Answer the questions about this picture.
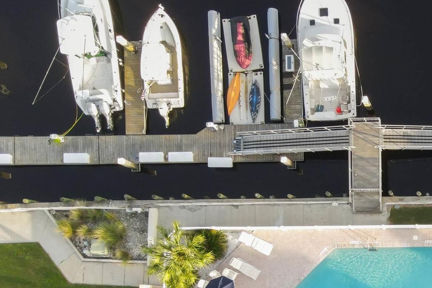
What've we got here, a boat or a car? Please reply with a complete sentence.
Of the two, only a boat appears.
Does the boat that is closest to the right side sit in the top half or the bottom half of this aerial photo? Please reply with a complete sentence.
Seen from above, the boat that is closest to the right side lies in the top half of the view.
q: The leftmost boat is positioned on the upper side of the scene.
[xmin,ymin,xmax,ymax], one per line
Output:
[33,0,124,136]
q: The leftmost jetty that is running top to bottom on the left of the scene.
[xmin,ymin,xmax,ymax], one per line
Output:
[124,40,147,135]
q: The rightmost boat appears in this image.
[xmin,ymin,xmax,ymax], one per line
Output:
[294,0,356,123]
